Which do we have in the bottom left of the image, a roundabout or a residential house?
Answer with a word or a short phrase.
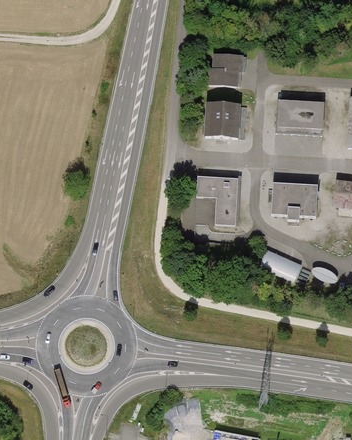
roundabout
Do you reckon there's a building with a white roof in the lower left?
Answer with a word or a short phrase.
No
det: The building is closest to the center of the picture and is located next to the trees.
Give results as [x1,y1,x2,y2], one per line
[196,176,240,228]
